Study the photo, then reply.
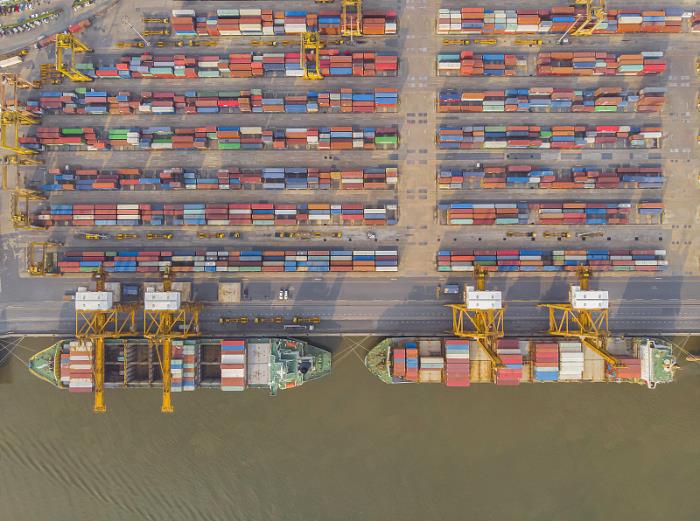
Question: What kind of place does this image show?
port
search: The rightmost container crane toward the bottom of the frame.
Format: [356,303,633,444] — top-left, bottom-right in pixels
[541,263,630,367]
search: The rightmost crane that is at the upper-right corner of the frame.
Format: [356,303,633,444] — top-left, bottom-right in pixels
[571,0,610,40]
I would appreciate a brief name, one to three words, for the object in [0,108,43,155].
container crane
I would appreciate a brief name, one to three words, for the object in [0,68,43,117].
container crane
